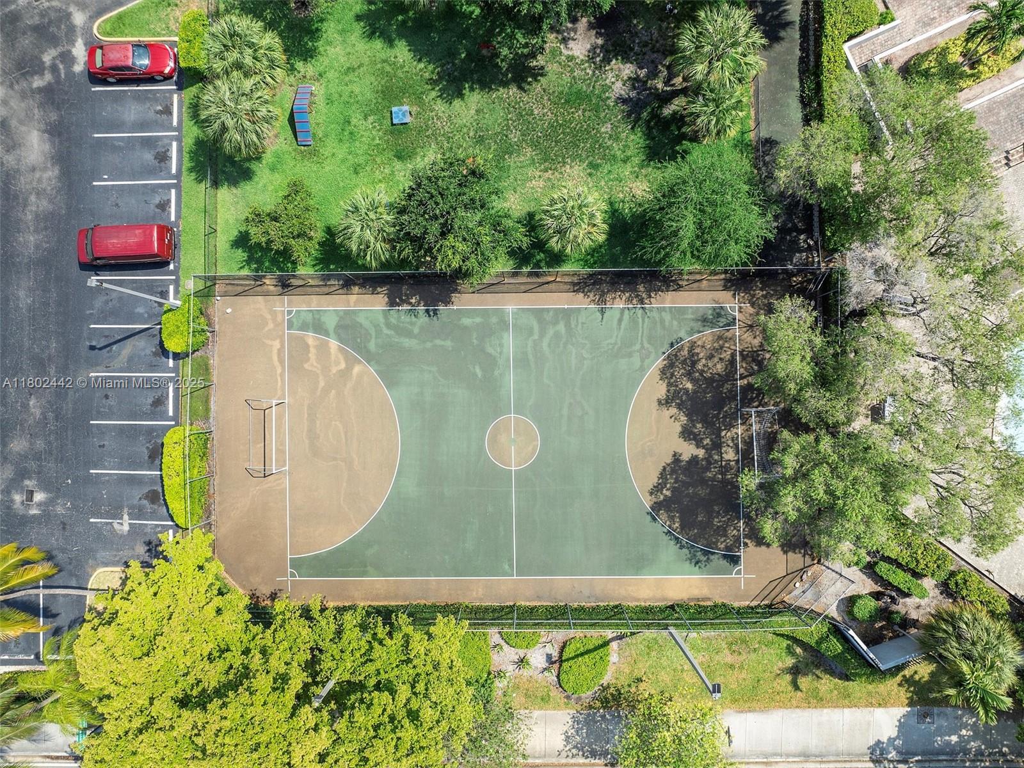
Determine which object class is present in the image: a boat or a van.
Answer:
van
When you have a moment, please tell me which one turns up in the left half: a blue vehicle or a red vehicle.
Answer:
red vehicle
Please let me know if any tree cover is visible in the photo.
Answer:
Yes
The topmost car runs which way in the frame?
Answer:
from left to right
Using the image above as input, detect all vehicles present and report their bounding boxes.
[77,223,179,269]
[89,41,178,84]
